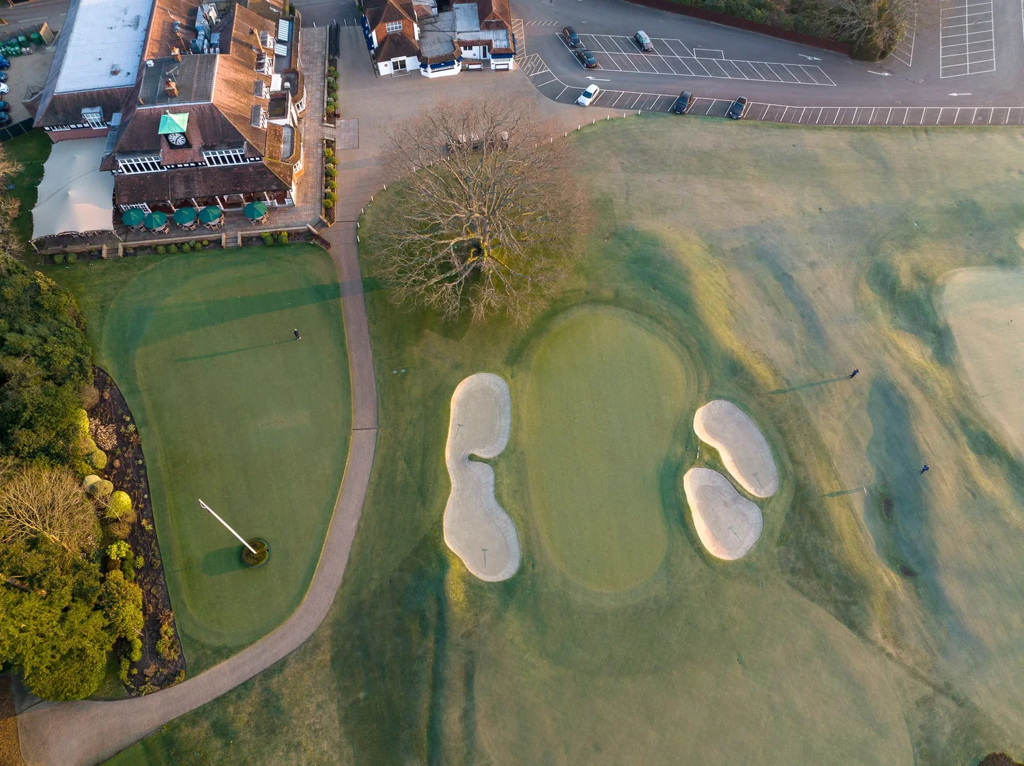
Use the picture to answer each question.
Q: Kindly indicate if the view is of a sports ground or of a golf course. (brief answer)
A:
golf course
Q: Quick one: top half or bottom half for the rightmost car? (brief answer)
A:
top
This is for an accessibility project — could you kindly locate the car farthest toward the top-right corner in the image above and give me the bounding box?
[730,94,750,116]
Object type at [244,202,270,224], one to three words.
umbrella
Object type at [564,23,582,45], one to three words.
car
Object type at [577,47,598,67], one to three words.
car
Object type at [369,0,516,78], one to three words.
building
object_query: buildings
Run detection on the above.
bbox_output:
[369,0,516,78]
[22,0,307,214]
